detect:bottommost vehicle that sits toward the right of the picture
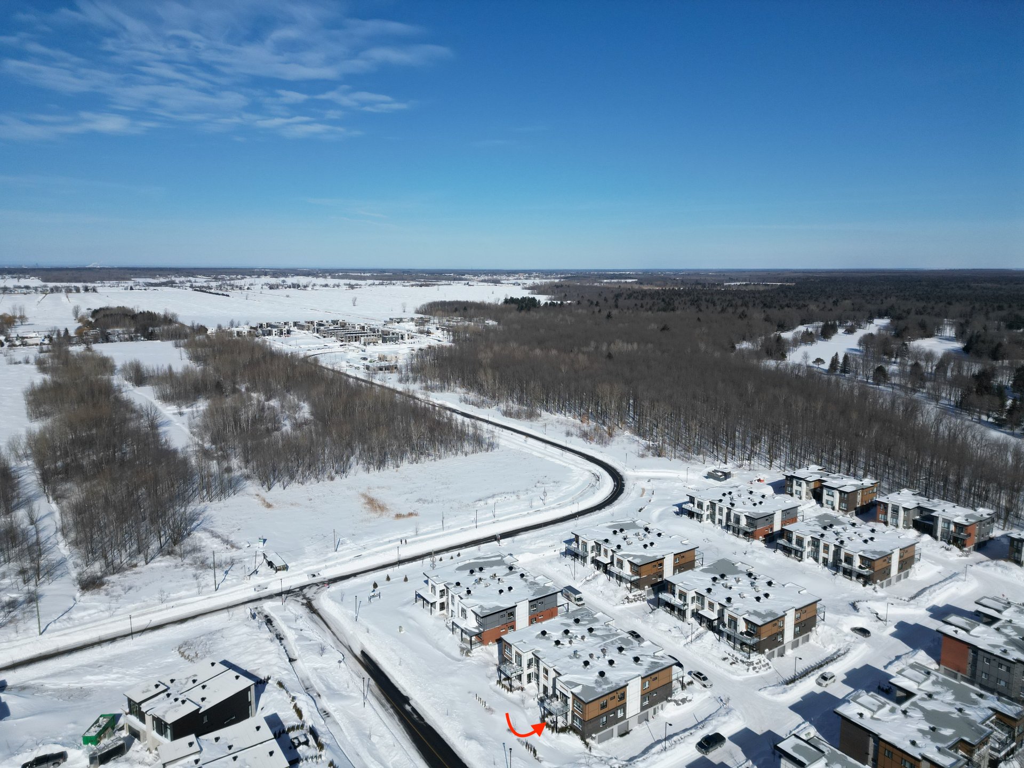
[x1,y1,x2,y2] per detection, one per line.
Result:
[696,731,726,748]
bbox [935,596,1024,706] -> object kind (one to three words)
building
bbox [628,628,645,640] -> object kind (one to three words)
vehicle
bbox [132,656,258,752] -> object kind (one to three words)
house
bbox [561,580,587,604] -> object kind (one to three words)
truck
